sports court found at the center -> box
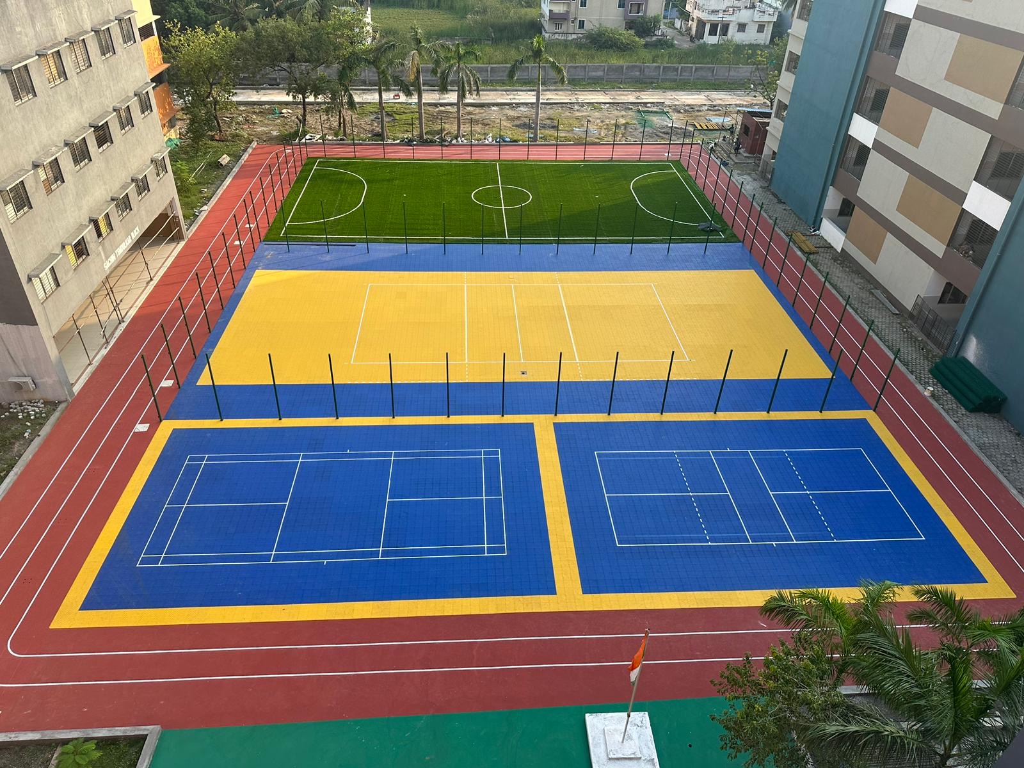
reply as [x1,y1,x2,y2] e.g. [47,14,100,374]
[163,242,873,421]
